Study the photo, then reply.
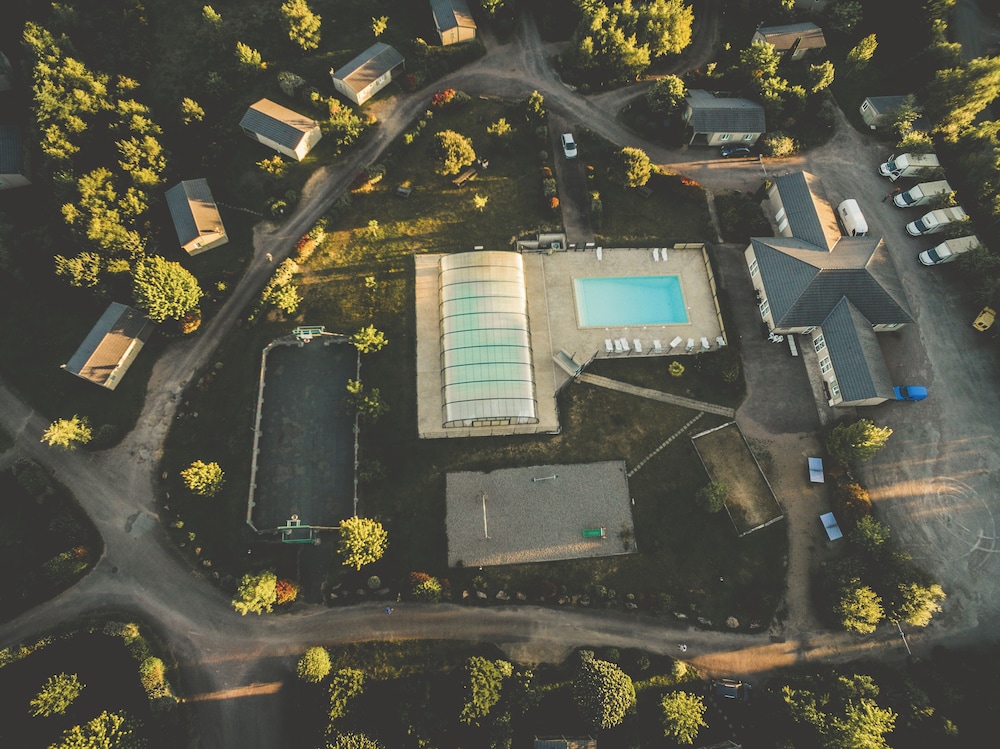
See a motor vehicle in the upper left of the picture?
No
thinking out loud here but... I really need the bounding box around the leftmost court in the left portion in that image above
[250,343,359,530]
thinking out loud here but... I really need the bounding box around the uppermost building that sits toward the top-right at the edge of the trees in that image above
[758,21,828,65]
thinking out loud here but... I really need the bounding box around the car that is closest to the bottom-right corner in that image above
[707,678,754,705]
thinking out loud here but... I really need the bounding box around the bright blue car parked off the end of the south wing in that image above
[890,385,931,403]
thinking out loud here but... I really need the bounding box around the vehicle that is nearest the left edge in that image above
[561,131,579,161]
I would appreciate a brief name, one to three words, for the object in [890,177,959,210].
camper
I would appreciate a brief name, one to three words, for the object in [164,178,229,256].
building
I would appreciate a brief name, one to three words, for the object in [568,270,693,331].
swimming pool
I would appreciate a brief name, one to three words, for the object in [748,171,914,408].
building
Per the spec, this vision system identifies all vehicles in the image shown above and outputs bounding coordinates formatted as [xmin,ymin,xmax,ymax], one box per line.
[707,678,754,705]
[902,203,974,238]
[915,231,986,269]
[890,177,959,210]
[890,385,931,403]
[561,131,579,161]
[720,144,752,160]
[970,306,996,335]
[833,197,869,235]
[876,150,944,185]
